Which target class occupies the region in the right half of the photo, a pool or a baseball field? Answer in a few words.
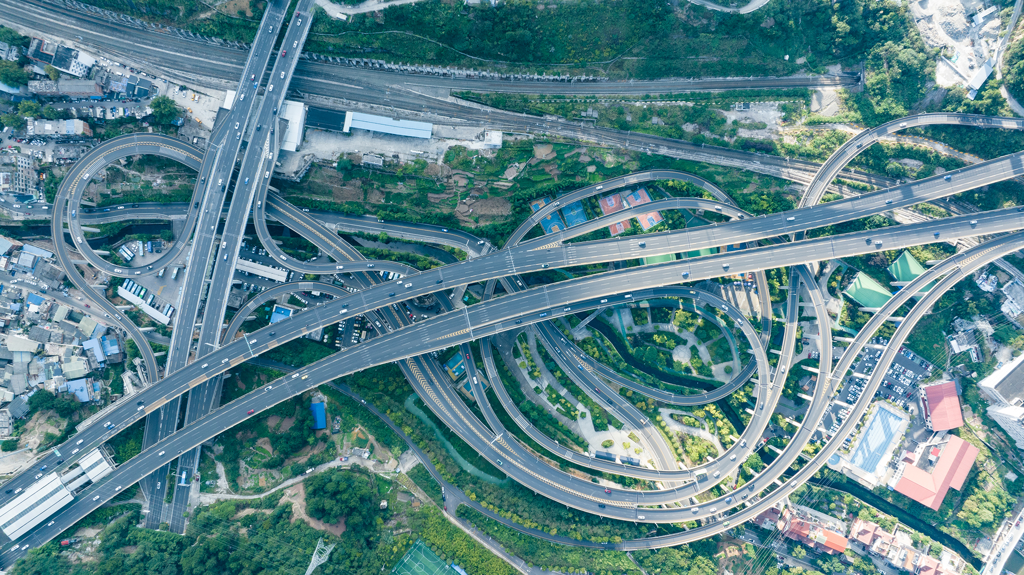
pool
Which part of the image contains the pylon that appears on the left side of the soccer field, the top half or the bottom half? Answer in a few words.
bottom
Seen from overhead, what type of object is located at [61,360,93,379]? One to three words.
house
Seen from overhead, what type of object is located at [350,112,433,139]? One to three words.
shed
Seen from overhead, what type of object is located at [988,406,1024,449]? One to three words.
building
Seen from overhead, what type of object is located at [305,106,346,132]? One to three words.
shed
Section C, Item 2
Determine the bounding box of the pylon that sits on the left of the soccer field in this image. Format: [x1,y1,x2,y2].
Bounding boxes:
[303,541,332,575]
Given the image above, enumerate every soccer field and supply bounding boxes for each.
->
[391,540,458,575]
